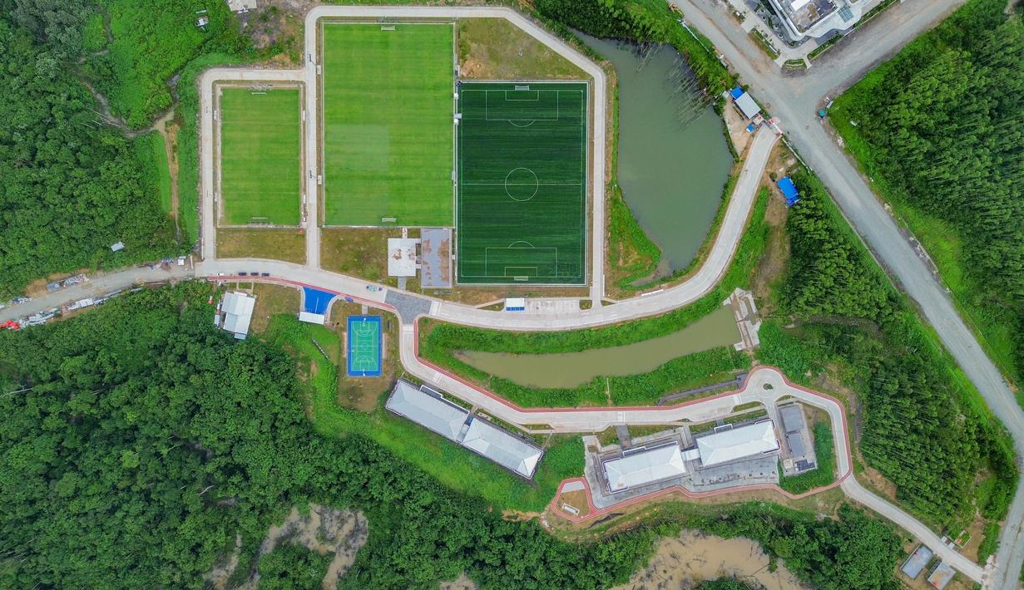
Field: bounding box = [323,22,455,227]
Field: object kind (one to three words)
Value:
soccer field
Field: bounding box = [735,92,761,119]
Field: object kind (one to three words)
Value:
building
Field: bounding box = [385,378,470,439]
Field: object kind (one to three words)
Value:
house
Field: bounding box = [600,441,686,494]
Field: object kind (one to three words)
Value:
house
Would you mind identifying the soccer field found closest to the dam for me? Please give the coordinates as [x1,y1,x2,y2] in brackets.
[454,79,591,287]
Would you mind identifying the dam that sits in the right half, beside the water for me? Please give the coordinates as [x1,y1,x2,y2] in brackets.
[724,288,760,350]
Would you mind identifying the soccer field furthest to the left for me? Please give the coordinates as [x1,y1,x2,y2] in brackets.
[217,84,304,228]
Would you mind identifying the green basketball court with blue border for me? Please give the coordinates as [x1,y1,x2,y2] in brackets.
[347,315,382,377]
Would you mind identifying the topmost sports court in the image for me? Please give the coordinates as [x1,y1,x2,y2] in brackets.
[300,287,339,323]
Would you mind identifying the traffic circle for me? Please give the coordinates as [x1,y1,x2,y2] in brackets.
[749,370,787,405]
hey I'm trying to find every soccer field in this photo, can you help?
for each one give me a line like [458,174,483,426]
[323,22,455,227]
[454,79,591,287]
[217,84,304,228]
